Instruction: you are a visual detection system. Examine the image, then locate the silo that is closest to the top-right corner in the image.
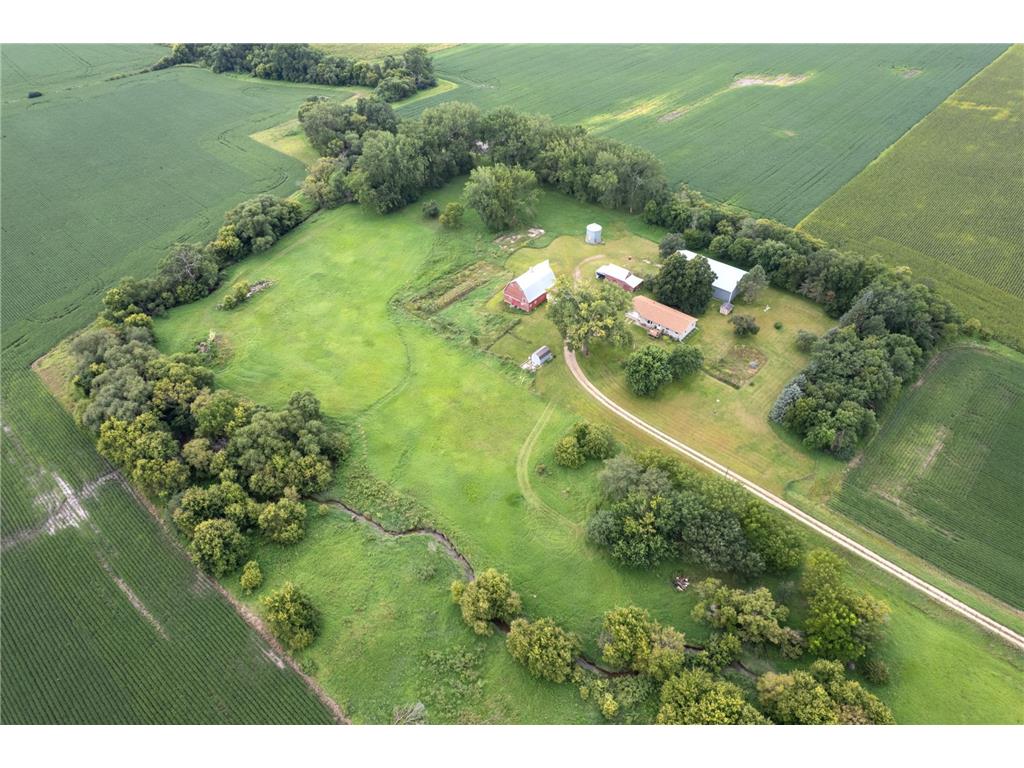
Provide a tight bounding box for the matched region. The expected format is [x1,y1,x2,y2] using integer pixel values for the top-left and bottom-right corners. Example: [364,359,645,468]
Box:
[585,219,605,243]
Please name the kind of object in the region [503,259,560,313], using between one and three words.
barn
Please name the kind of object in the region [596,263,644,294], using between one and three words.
shed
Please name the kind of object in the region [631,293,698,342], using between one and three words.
house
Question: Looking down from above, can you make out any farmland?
Yes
